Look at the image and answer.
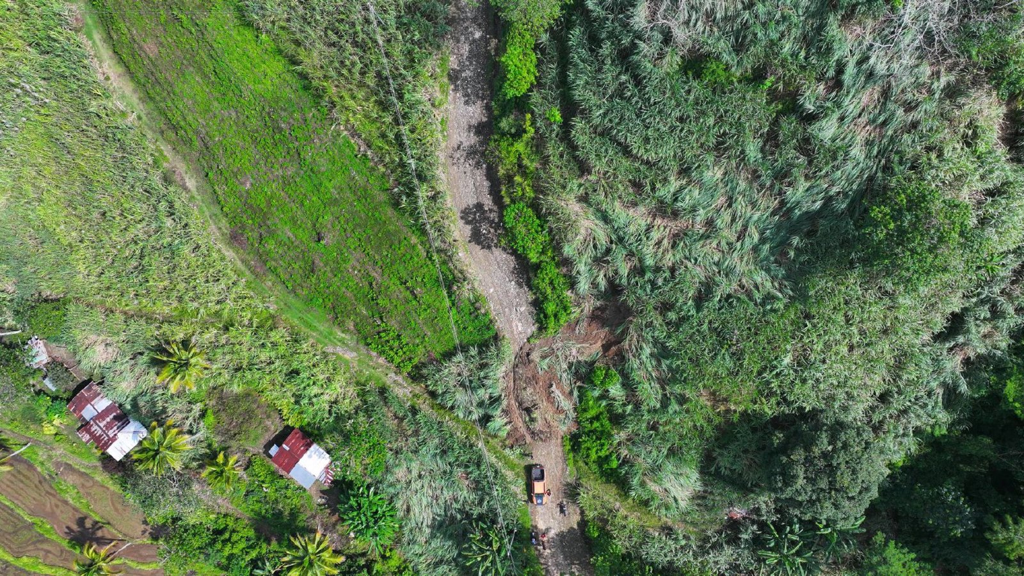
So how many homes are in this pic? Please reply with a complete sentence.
Looking from above, you can make out 2 homes.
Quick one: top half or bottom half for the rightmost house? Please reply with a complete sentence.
The rightmost house sits in the bottom half of the picture.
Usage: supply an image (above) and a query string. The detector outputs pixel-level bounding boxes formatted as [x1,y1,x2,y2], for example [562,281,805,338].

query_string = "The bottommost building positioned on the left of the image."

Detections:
[273,427,337,488]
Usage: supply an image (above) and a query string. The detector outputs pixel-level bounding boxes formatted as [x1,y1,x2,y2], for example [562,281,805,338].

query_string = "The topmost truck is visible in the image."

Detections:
[530,464,552,504]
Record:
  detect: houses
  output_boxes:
[273,427,337,488]
[70,381,149,461]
